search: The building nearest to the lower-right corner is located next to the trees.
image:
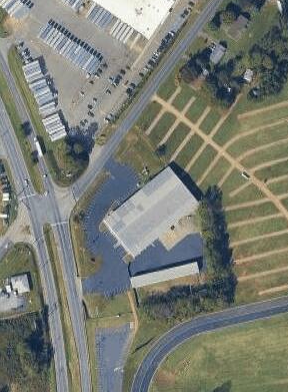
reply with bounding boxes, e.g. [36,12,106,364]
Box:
[131,262,200,287]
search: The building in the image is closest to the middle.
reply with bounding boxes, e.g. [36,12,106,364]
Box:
[103,166,197,261]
